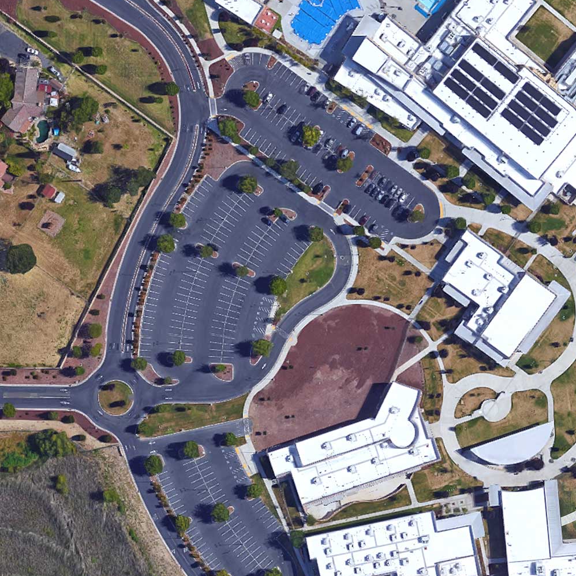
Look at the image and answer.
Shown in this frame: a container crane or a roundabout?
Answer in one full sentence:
This aerial view contains a roundabout.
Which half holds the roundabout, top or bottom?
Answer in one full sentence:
It is in the bottom half that the roundabout appears.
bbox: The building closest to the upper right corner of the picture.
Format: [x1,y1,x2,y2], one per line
[335,0,576,206]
